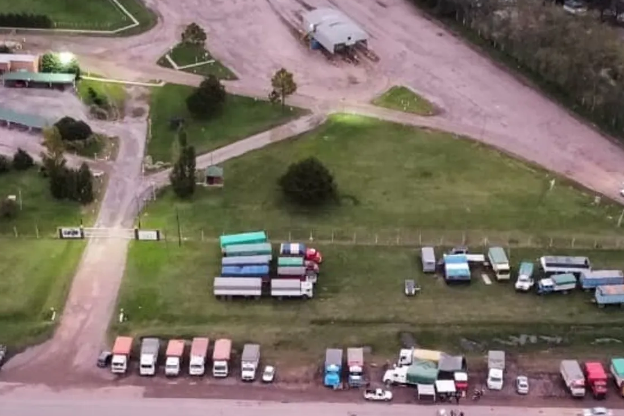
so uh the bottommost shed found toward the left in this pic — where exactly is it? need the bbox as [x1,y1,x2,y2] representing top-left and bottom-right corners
[201,165,222,184]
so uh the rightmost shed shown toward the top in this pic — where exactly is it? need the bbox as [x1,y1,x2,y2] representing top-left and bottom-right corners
[304,9,373,77]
